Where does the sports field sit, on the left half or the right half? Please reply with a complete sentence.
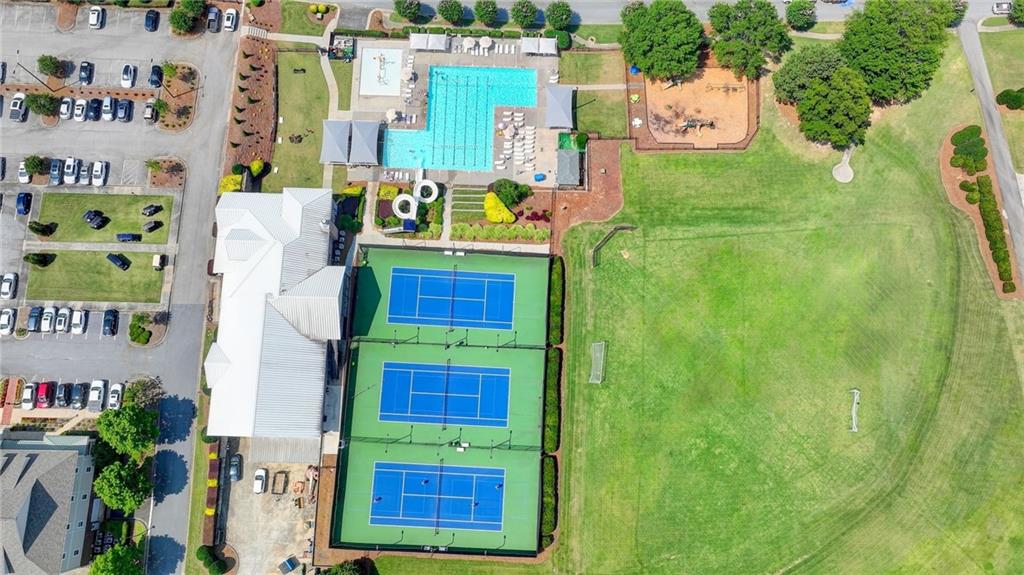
The sports field appears in the right half of the scene.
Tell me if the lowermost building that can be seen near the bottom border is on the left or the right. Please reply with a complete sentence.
The lowermost building that can be seen near the bottom border appears in the left half of the scene.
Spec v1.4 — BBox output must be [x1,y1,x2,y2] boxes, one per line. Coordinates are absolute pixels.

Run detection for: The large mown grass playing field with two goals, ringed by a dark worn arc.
[561,154,957,575]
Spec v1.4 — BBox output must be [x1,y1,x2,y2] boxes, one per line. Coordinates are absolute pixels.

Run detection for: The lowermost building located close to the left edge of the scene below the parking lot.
[0,431,92,575]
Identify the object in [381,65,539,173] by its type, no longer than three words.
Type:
swimming pool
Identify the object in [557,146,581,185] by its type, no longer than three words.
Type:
building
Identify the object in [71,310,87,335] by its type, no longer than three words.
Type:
car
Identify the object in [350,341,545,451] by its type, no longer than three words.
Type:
tennis court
